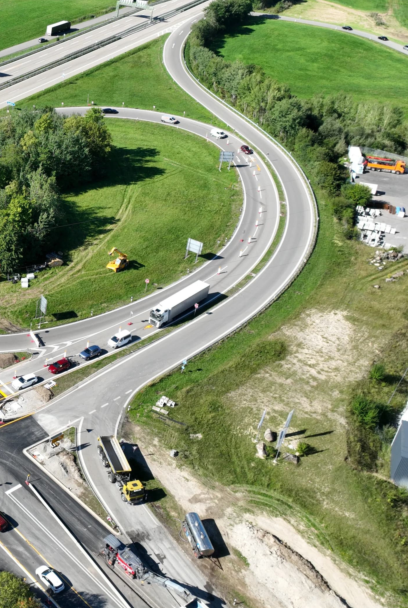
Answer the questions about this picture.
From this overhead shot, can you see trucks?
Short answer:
Yes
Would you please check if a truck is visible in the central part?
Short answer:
Yes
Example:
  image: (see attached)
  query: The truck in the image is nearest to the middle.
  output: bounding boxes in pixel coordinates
[154,280,219,327]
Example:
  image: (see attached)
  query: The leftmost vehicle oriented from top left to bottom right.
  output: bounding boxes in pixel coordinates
[34,564,68,595]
